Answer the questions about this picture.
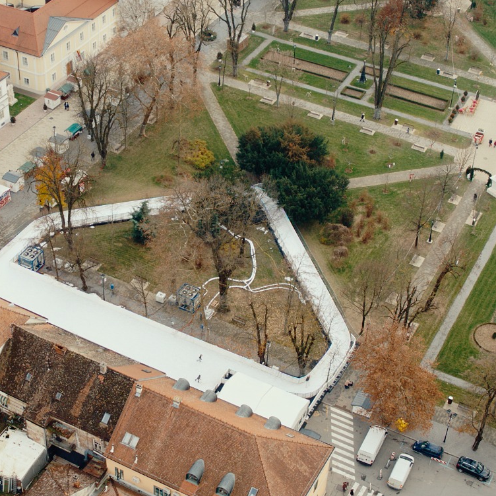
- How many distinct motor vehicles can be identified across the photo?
4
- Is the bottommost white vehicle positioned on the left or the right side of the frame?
right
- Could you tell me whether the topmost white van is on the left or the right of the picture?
right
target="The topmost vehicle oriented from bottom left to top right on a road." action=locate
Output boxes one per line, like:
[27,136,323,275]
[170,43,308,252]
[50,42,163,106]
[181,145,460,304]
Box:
[357,424,389,463]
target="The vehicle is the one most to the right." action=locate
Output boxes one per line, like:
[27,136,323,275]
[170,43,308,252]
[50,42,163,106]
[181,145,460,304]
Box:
[457,455,492,481]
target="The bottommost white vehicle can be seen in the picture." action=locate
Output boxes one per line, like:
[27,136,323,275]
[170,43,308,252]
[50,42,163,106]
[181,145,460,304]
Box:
[389,455,415,486]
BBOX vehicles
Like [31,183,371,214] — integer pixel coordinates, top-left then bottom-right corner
[357,424,389,463]
[389,455,415,486]
[457,455,492,481]
[414,439,445,460]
